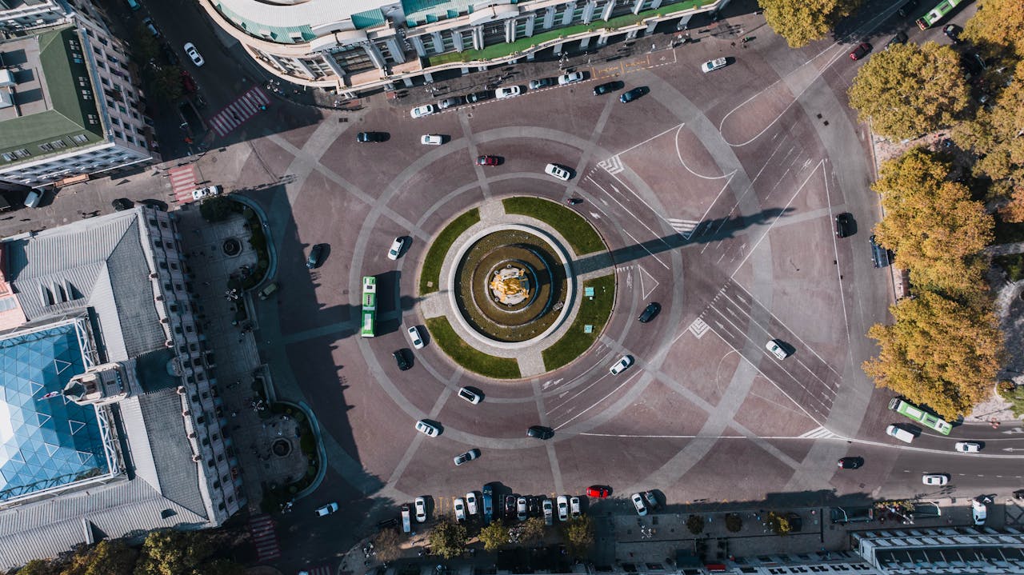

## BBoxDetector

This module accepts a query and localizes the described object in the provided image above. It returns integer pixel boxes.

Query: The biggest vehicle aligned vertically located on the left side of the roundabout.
[360,276,378,339]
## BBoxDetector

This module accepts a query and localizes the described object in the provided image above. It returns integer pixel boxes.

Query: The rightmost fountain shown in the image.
[448,222,576,351]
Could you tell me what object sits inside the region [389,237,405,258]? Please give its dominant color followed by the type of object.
white car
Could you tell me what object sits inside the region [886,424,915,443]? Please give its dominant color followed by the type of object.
white vehicle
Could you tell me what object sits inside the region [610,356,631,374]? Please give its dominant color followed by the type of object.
white car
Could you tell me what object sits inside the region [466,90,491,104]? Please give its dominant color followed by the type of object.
black car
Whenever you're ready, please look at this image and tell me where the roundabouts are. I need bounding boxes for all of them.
[419,196,617,379]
